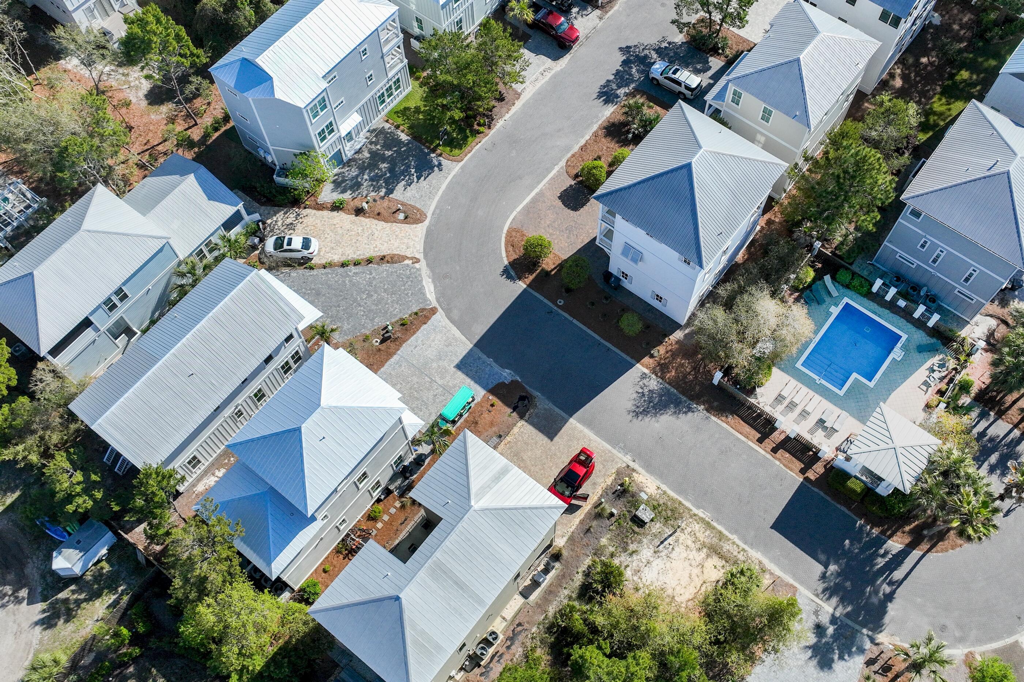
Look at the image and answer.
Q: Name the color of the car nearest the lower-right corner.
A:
red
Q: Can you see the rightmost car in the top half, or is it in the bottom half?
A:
top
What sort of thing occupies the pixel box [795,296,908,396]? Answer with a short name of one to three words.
swimming pool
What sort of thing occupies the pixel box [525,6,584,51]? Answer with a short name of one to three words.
truck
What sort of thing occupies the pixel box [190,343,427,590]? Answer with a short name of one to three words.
house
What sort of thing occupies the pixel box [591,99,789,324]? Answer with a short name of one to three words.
house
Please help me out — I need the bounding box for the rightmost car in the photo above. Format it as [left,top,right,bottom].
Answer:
[647,64,706,100]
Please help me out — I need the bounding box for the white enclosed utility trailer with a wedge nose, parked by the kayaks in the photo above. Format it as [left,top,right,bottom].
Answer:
[59,519,120,584]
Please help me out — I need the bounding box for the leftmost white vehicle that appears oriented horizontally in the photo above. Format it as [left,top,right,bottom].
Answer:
[265,234,318,260]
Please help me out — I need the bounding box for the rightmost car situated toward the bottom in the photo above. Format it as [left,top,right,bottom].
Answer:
[548,444,597,506]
